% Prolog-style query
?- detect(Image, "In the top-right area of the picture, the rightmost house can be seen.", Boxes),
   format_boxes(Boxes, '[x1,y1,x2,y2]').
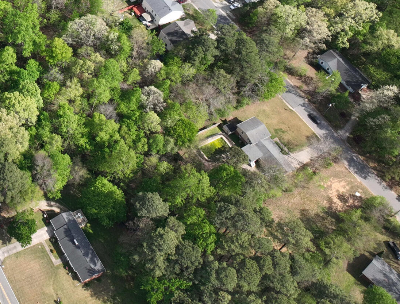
[318,51,373,98]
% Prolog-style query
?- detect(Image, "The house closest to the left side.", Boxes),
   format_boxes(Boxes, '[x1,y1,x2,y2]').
[46,212,108,289]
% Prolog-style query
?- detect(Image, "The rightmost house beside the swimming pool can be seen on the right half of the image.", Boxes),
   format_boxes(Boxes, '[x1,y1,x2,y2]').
[229,120,293,186]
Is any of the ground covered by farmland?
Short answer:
No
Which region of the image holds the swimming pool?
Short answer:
center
